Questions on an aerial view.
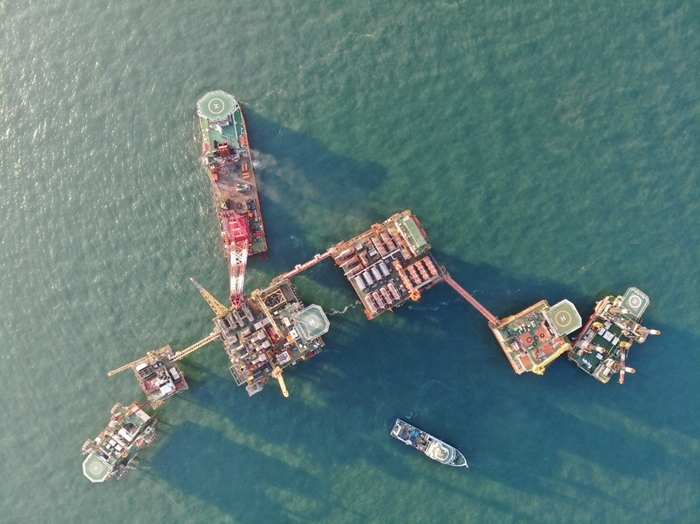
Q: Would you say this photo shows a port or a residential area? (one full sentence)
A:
This looks like a port.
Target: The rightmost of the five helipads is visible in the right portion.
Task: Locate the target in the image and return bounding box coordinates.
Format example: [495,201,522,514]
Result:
[620,288,650,320]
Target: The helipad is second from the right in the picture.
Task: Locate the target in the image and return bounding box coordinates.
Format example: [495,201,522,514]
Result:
[542,299,582,337]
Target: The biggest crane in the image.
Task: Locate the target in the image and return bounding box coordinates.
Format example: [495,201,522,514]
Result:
[225,211,252,308]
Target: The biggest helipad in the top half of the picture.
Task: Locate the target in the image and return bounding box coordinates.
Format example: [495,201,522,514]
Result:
[196,89,234,120]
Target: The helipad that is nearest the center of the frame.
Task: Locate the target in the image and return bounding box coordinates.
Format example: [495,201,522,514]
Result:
[295,304,329,341]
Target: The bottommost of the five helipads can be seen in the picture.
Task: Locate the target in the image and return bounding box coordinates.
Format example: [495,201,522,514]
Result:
[82,452,112,482]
